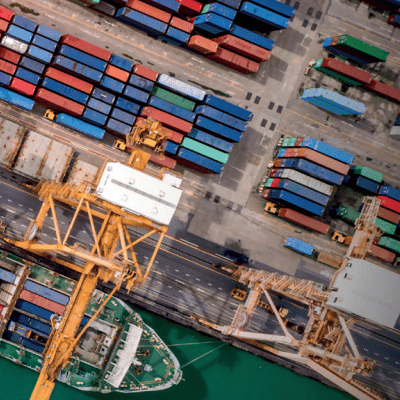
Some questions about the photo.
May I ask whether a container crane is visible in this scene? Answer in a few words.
Yes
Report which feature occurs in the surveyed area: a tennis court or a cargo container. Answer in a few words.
cargo container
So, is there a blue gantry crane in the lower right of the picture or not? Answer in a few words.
No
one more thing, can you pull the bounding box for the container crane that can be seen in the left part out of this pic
[0,113,181,400]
